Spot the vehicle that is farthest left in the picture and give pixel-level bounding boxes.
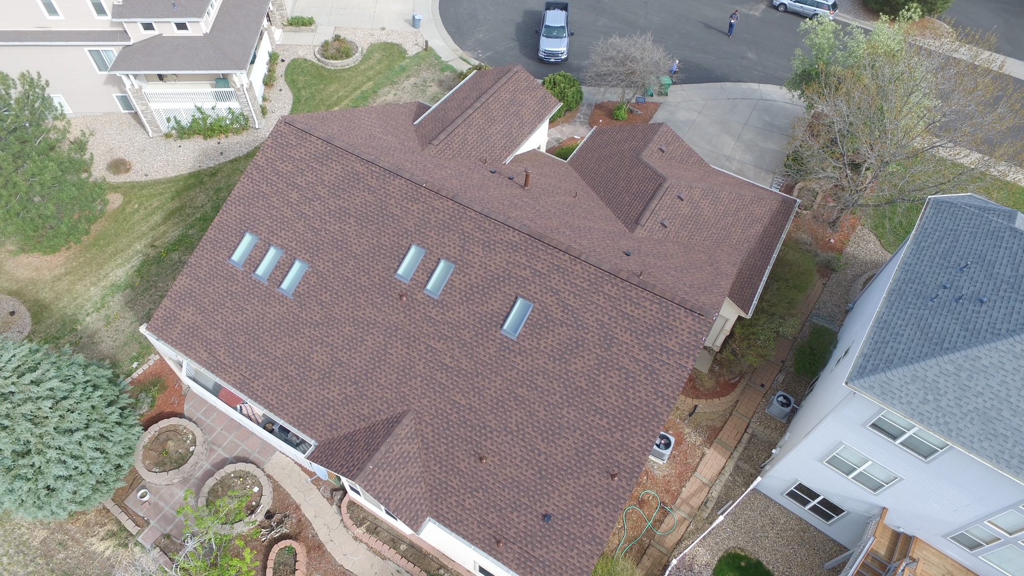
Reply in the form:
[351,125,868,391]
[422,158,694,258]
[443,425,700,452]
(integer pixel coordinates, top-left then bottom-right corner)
[535,0,577,59]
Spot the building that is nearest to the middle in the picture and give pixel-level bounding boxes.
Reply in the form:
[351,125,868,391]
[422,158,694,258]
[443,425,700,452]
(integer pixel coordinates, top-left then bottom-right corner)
[142,63,801,576]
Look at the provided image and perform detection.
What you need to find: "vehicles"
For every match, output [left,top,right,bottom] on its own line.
[535,0,577,59]
[772,0,838,21]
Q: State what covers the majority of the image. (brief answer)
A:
buildings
